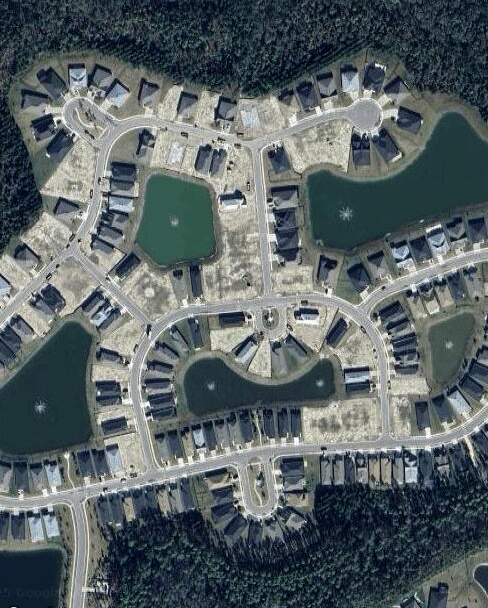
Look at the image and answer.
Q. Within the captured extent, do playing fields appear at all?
No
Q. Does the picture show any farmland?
No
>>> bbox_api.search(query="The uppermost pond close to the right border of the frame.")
[308,113,488,248]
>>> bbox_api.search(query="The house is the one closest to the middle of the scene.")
[220,312,244,327]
